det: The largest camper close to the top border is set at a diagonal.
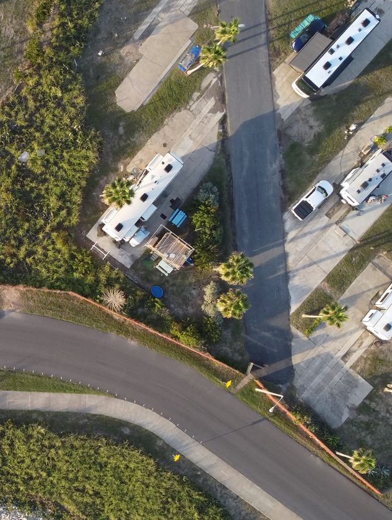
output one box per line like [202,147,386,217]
[281,6,380,107]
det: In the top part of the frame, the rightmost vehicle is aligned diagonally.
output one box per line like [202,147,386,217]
[333,151,392,208]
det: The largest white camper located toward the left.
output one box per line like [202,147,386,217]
[99,152,183,242]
